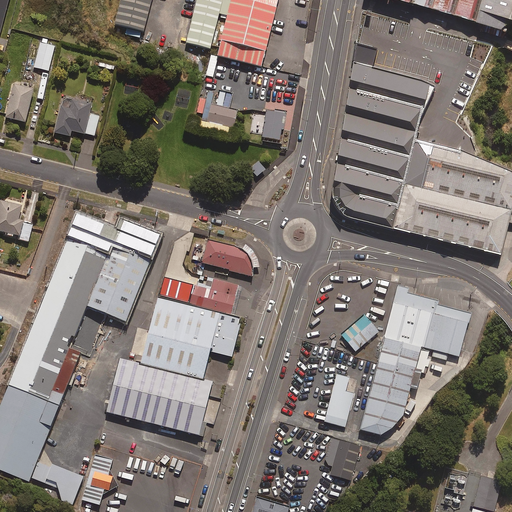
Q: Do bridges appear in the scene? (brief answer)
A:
No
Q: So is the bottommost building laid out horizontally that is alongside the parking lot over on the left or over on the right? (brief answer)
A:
right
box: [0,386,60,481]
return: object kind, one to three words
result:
building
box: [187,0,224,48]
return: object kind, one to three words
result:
building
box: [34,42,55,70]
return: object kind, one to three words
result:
shed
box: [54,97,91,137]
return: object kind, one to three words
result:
house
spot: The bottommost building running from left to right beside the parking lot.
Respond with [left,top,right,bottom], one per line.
[394,184,510,255]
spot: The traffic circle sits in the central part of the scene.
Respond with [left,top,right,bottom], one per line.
[283,218,316,252]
